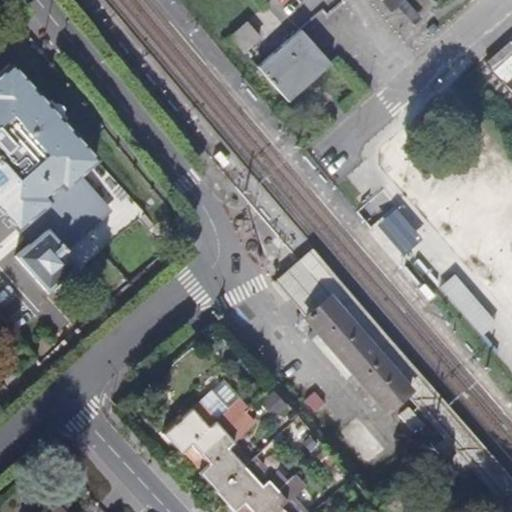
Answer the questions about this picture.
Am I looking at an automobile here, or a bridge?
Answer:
automobile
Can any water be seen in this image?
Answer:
No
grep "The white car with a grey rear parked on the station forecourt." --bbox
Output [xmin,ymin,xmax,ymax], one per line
[284,360,302,376]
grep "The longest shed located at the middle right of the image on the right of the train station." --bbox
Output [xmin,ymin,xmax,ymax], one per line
[440,274,494,334]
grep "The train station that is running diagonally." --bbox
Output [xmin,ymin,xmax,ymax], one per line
[305,294,416,416]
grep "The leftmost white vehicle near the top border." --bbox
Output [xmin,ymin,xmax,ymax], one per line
[282,2,298,18]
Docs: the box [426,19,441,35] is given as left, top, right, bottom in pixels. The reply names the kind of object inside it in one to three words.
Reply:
car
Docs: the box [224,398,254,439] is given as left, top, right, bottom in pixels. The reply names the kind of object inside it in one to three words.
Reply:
house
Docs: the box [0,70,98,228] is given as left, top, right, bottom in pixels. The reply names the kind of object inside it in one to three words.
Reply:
building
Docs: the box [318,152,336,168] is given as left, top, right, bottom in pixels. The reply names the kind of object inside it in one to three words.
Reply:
car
